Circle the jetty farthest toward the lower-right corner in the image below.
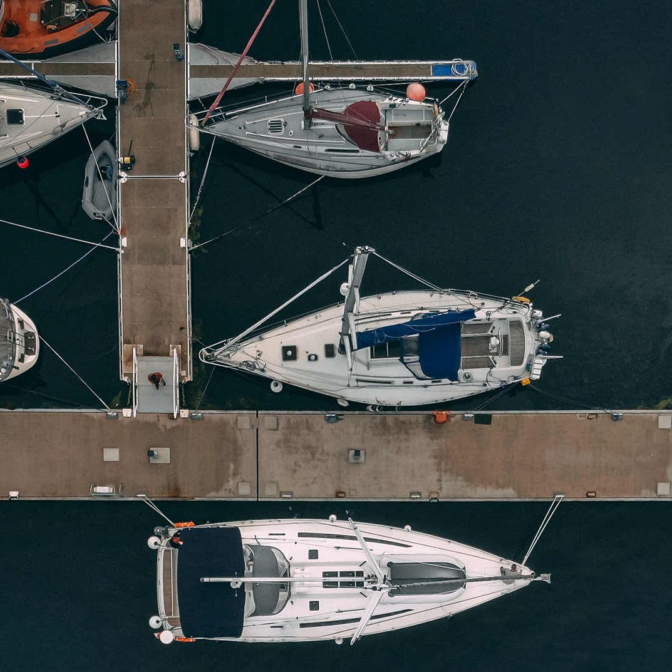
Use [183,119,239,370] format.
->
[257,410,672,502]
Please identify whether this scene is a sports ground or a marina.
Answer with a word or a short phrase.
marina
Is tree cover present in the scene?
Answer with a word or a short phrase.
No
